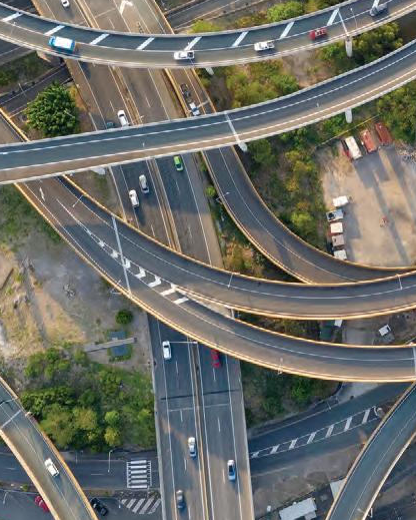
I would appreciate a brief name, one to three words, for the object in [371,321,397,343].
truck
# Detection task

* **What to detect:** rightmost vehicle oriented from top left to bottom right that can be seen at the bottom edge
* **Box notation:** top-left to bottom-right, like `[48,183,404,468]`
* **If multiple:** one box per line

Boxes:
[90,496,109,517]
